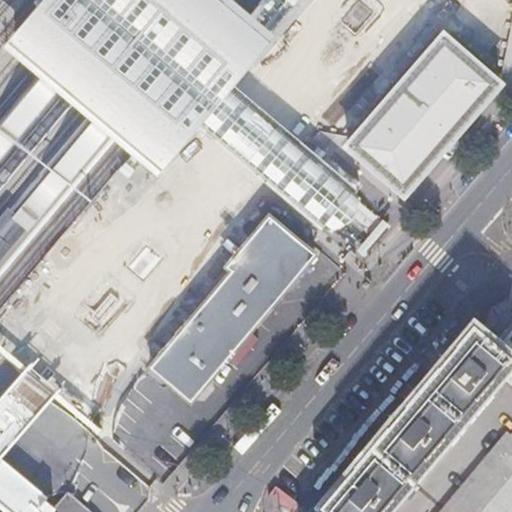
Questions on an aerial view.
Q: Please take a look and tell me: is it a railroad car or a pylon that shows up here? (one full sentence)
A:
Visible in the photo is a railroad car.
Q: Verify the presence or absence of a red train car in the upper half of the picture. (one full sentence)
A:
No, there is no red train car in the upper half of the picture.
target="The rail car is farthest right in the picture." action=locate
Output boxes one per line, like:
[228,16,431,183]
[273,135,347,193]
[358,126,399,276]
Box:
[16,95,70,156]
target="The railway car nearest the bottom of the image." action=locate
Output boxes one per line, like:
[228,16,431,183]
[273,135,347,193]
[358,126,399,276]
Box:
[0,150,24,188]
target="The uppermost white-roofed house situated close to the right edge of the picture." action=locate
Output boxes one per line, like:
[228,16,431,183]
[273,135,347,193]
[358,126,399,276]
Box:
[342,30,505,200]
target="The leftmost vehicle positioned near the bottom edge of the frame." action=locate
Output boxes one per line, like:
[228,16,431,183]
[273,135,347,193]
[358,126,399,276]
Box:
[80,484,98,504]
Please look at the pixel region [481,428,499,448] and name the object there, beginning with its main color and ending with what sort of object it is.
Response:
gray car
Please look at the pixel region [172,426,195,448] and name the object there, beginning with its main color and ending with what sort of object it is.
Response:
white car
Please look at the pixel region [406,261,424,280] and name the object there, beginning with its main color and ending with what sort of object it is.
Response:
red car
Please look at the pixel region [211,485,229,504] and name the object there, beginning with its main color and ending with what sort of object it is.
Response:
gray car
